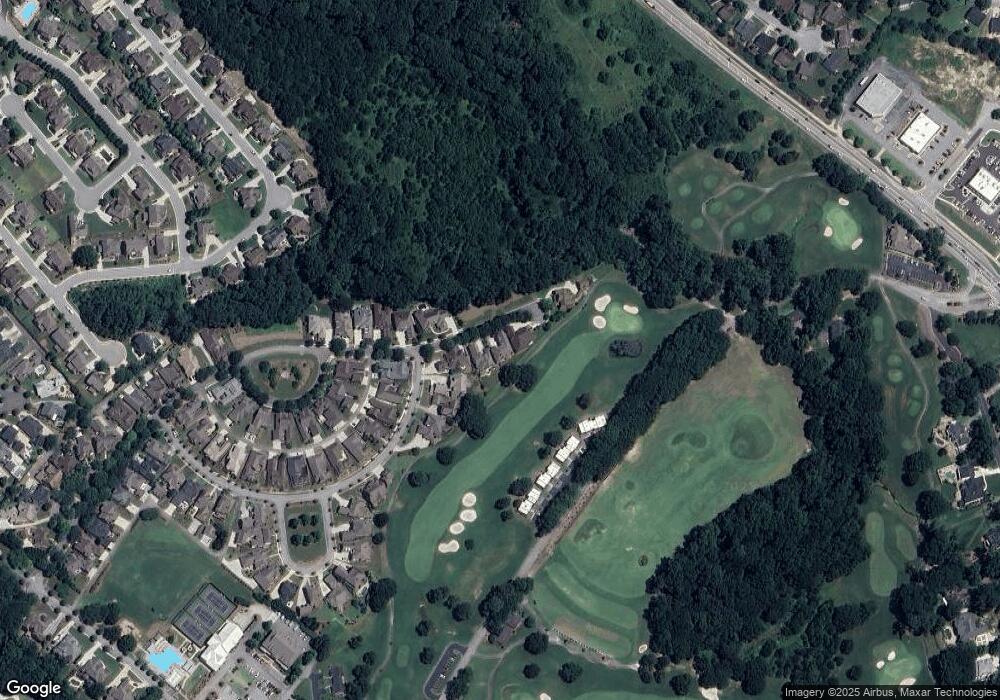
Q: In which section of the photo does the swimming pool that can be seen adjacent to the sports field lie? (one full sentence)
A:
The swimming pool that can be seen adjacent to the sports field appears toward the bottom left of the photo.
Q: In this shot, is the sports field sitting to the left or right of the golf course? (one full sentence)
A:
The sports field can be seen on the left of the golf course.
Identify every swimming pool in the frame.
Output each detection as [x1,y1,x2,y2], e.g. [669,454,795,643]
[139,635,190,689]
[96,145,116,165]
[937,466,957,482]
[14,0,40,26]
[944,624,956,643]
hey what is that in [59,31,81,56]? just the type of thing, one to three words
house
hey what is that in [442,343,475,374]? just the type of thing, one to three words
house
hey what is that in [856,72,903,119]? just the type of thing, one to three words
building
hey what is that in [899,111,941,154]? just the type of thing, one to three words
building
